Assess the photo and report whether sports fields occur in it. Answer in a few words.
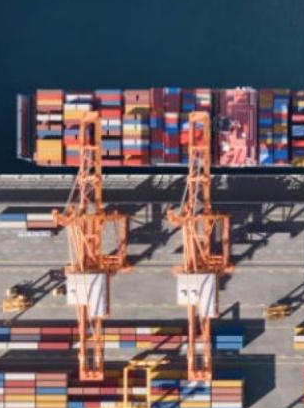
No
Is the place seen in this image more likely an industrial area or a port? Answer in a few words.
port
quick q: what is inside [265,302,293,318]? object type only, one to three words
work vehicle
